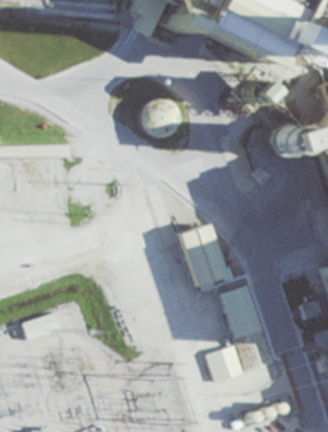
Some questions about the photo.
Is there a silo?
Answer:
Yes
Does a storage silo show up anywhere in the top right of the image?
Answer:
Yes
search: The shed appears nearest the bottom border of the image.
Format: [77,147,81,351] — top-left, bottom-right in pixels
[203,346,244,382]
